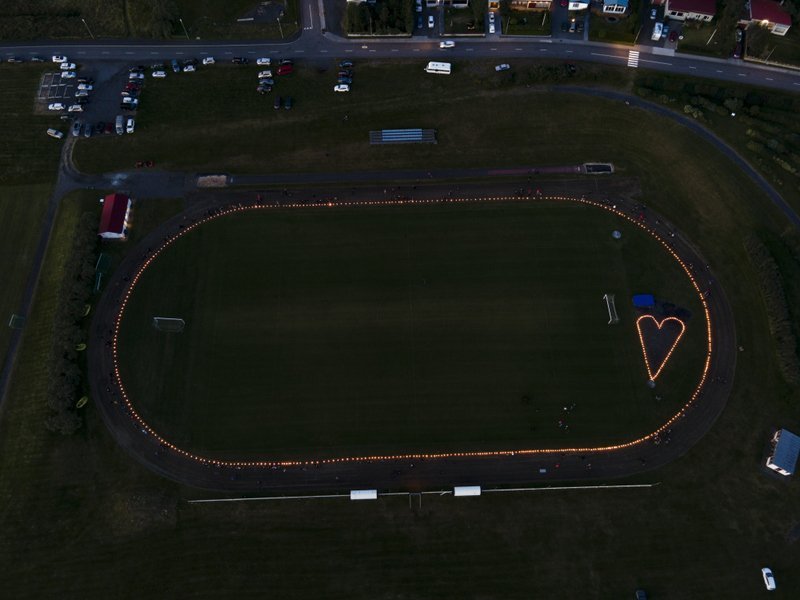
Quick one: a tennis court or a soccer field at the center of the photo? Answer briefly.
soccer field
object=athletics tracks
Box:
[87,177,737,495]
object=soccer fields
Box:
[115,198,710,465]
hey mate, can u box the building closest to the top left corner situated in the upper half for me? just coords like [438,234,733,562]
[97,191,131,238]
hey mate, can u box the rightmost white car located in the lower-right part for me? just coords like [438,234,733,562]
[761,568,777,589]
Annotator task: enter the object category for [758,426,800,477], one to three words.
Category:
shed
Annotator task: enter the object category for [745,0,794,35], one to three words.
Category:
house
